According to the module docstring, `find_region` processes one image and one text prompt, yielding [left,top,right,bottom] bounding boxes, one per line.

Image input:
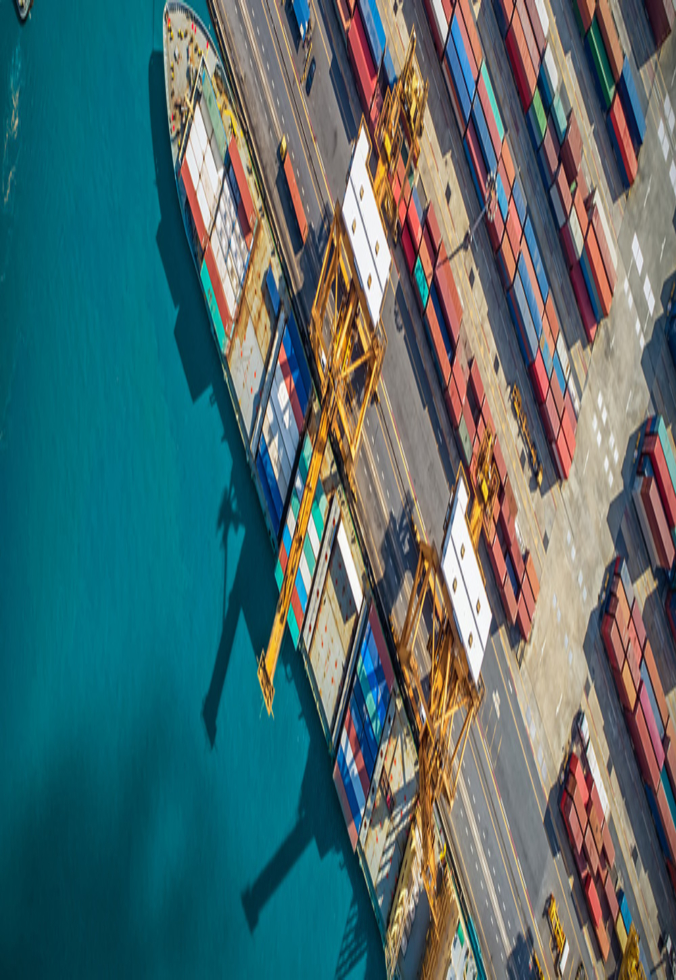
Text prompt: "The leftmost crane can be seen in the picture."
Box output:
[252,14,426,717]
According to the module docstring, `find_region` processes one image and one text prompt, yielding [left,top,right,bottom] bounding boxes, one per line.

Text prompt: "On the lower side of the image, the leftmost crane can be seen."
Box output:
[391,421,509,979]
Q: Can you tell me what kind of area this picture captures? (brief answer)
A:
port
